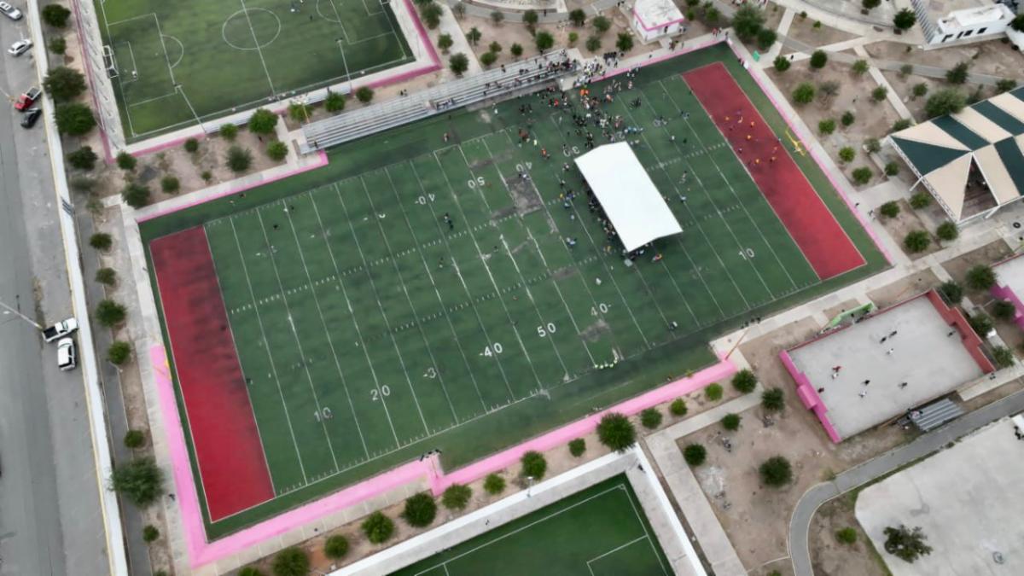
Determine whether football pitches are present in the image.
Yes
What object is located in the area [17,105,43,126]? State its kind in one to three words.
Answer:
car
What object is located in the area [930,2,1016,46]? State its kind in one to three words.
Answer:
building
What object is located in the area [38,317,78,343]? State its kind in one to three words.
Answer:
vehicle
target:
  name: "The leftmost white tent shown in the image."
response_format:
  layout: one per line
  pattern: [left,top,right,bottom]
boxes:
[574,141,683,261]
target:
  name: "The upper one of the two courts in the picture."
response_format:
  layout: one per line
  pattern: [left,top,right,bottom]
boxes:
[992,251,1024,307]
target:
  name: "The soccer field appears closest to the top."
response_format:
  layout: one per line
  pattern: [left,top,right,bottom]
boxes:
[94,0,415,142]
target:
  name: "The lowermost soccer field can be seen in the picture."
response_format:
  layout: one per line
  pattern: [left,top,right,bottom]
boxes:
[395,474,678,576]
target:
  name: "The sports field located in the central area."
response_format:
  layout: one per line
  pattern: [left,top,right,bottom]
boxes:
[138,41,894,543]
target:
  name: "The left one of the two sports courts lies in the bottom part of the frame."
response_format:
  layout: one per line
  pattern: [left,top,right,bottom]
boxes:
[783,293,981,441]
